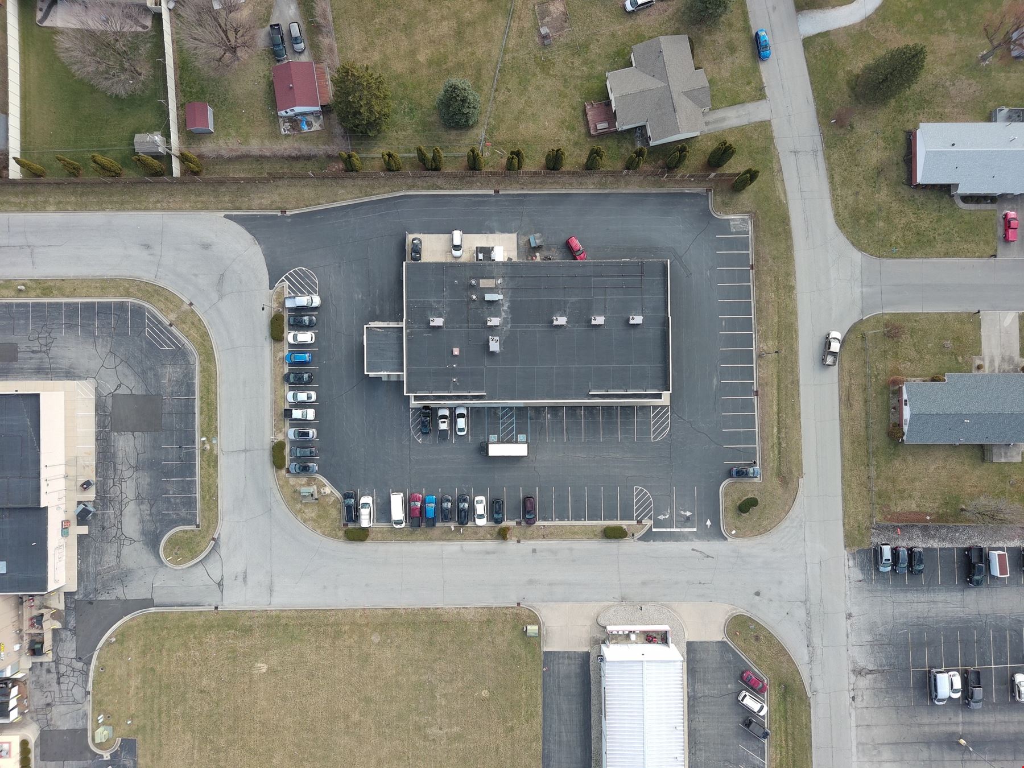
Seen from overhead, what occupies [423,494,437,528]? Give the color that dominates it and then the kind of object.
blue vehicle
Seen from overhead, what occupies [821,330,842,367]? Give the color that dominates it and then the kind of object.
white truck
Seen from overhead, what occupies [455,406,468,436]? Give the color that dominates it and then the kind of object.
white vehicle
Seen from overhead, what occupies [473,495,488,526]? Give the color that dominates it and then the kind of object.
white car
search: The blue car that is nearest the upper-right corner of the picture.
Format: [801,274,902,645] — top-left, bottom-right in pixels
[754,28,772,61]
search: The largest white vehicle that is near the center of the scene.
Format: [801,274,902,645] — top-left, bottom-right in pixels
[478,443,527,460]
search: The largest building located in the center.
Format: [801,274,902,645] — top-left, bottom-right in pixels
[404,260,672,406]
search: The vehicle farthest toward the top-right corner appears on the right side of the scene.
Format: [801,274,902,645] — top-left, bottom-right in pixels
[1001,210,1020,244]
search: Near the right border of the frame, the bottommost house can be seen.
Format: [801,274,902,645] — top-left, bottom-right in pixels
[897,373,1024,444]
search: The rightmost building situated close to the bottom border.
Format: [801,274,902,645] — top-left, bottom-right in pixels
[601,646,685,768]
